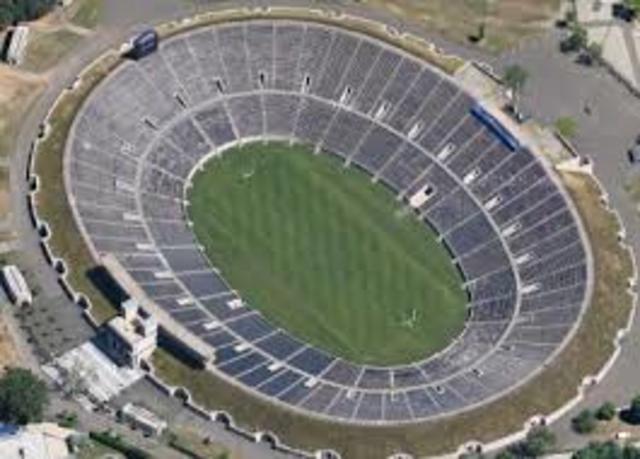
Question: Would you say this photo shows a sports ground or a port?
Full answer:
This image shows a sports ground.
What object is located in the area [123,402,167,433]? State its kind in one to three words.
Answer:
shed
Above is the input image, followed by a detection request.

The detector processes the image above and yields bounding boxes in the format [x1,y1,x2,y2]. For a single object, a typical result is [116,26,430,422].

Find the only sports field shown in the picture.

[184,139,471,368]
